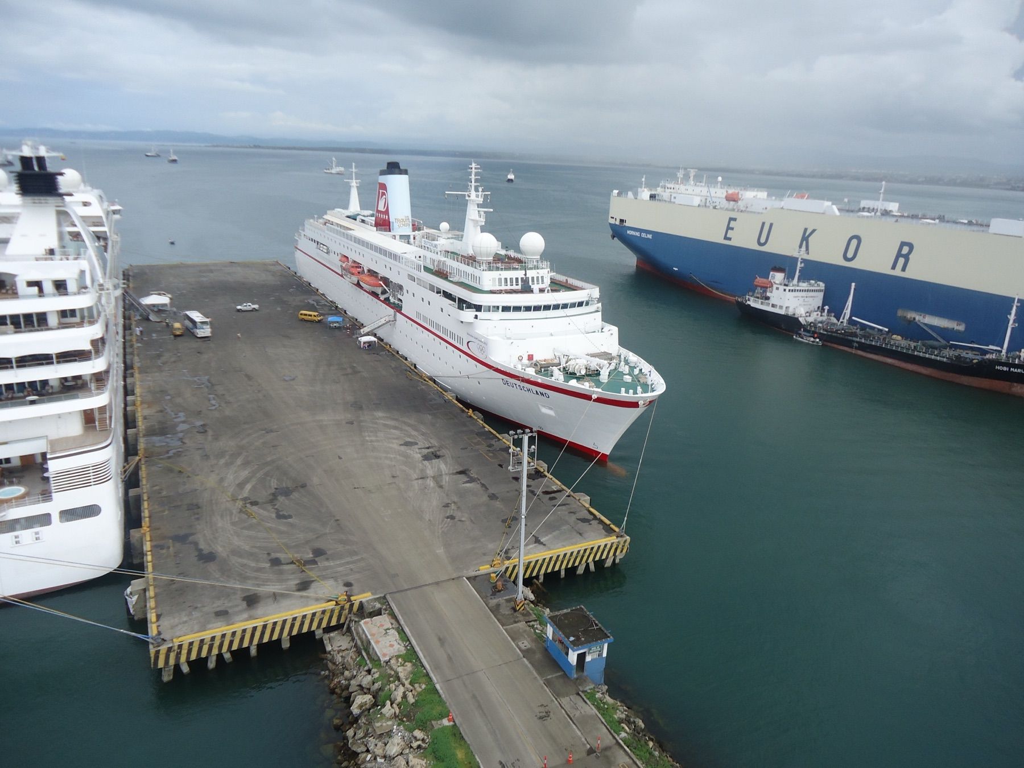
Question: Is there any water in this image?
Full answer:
Yes, there is water in the image.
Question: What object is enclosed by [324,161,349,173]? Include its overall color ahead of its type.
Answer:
white vessel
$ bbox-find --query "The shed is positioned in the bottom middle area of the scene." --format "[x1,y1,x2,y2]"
[544,604,614,693]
